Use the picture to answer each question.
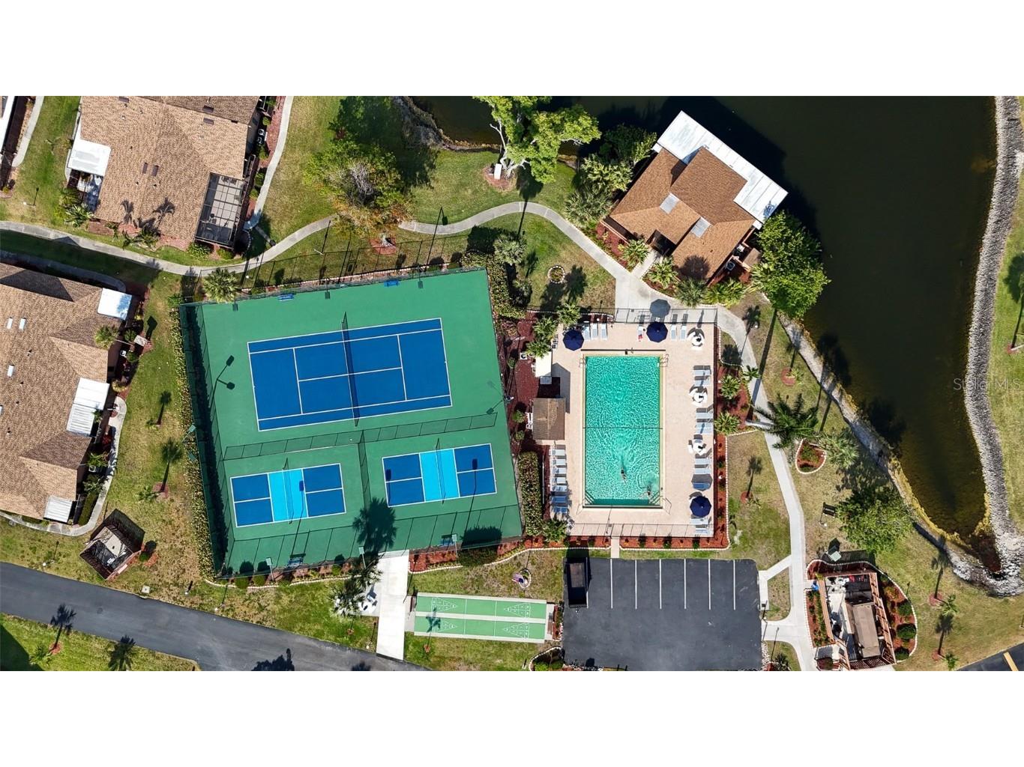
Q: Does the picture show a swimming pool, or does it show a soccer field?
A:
swimming pool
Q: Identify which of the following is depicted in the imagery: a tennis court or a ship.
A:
tennis court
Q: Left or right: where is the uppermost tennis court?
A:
left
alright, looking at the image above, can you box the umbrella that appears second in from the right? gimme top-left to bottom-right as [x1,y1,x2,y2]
[646,321,667,343]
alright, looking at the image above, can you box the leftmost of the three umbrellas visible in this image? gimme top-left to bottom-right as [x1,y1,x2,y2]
[563,329,584,350]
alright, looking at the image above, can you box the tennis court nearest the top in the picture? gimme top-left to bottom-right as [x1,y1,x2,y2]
[184,271,512,462]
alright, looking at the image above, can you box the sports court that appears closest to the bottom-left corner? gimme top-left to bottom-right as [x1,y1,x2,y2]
[213,444,370,574]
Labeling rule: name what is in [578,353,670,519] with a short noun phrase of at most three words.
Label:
swimming pool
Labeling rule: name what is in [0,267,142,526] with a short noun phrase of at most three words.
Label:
house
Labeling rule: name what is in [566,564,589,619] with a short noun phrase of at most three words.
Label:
trailer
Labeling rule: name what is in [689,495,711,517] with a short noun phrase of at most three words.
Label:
umbrella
